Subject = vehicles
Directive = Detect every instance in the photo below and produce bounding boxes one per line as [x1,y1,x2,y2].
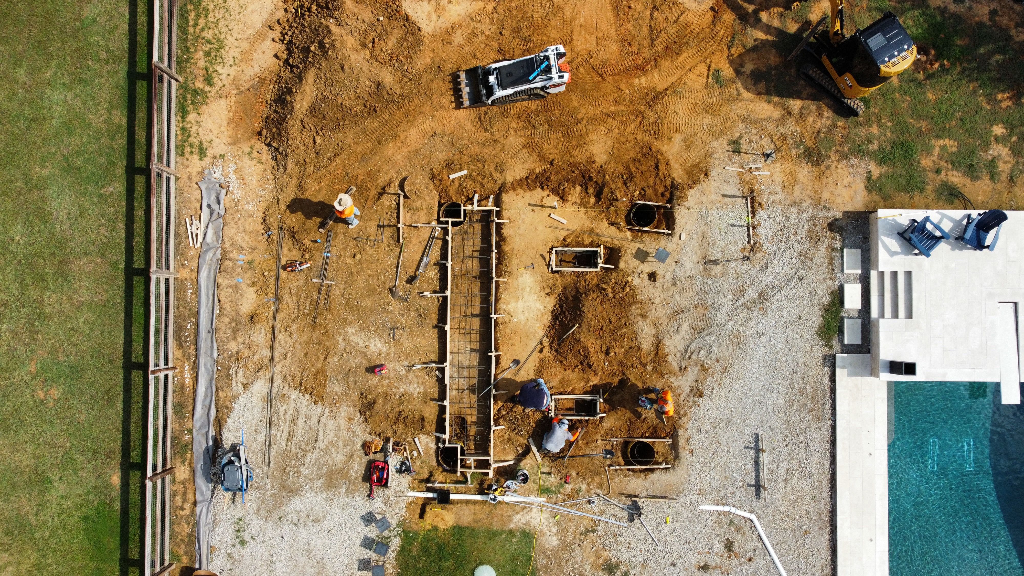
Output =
[787,0,921,120]
[457,45,572,109]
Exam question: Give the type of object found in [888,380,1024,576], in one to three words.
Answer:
swimming pool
